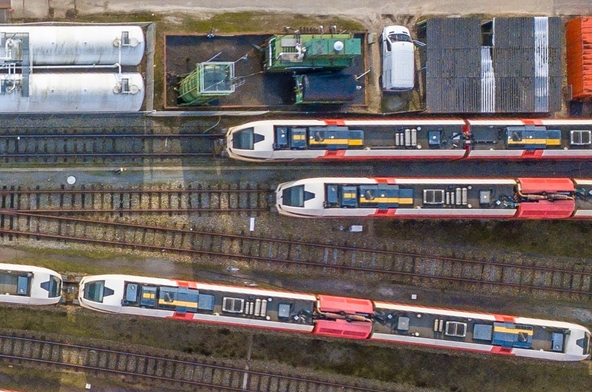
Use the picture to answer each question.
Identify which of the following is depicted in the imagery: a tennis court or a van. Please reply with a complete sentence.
This aerial view contains a van.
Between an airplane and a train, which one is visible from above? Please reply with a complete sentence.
The image shows a train.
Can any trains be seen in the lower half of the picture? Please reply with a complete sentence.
Yes, you'll find a train in the lower half of the picture.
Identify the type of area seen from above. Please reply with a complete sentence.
What you see here is an industrial area.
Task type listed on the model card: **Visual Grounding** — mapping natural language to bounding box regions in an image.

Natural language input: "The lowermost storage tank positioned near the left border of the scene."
[0,73,145,114]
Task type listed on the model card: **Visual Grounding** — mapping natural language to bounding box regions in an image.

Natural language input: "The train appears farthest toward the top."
[218,120,592,161]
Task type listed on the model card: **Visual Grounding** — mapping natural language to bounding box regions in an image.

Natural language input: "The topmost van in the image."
[383,25,426,91]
